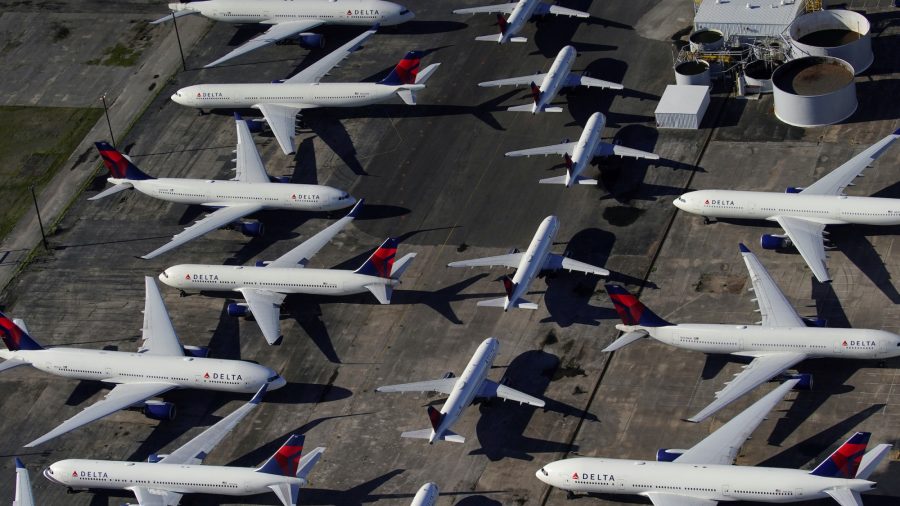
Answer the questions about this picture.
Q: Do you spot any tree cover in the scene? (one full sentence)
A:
No, tree cover can't be seen anywhere here.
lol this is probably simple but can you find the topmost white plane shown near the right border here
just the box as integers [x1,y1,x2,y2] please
[675,129,900,281]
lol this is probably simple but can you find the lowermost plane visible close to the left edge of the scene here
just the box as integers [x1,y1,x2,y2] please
[12,456,34,506]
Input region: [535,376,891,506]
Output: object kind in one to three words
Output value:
airplane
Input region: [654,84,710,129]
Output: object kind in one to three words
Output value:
shed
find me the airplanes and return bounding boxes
[375,337,547,445]
[535,376,891,506]
[0,277,287,449]
[451,0,592,45]
[603,242,900,422]
[405,483,434,506]
[159,199,417,344]
[43,382,326,506]
[89,111,356,258]
[150,0,416,67]
[446,216,610,312]
[475,45,624,115]
[675,129,900,281]
[171,20,439,154]
[503,112,660,187]
[12,456,34,506]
